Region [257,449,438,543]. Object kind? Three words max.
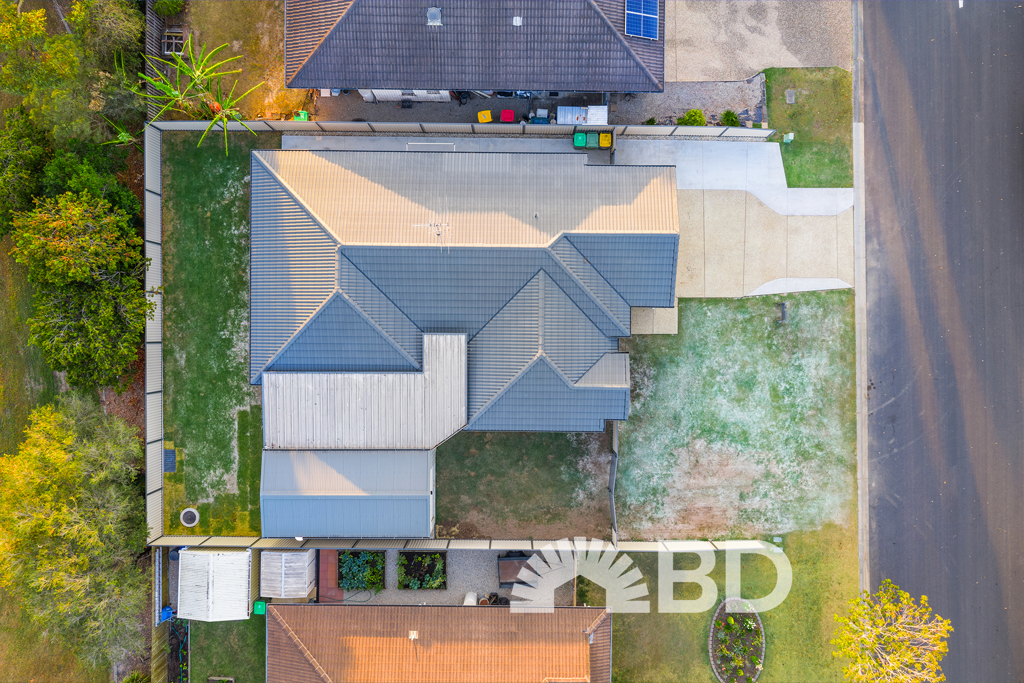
shed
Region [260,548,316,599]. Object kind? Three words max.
shed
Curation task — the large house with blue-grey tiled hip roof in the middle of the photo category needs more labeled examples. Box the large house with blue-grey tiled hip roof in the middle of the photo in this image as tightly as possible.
[248,148,681,434]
